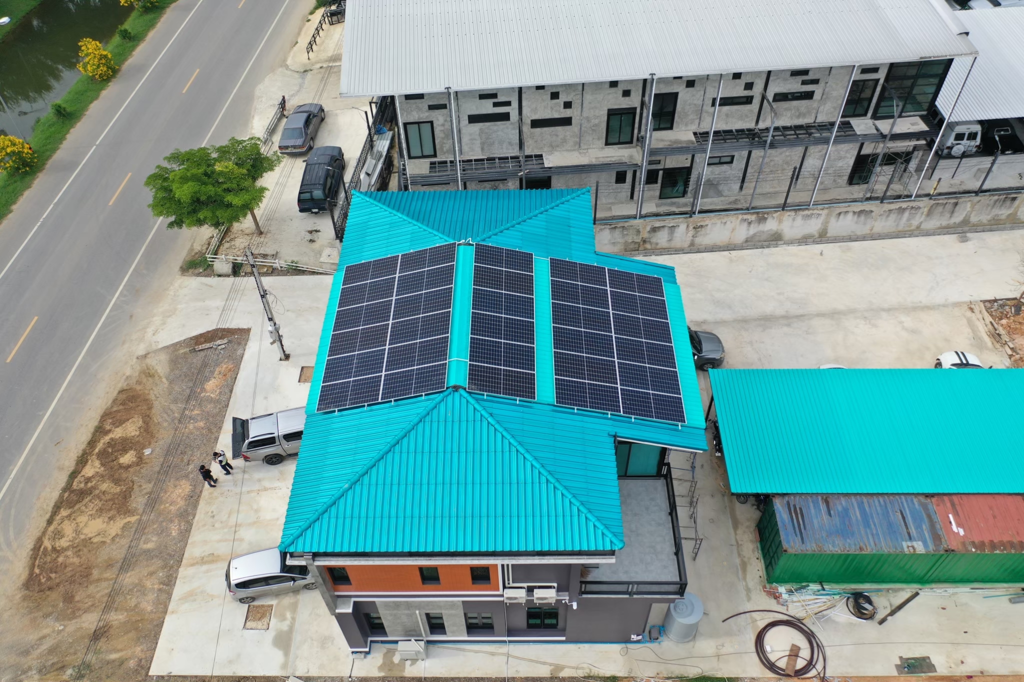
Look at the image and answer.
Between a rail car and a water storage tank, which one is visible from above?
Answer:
water storage tank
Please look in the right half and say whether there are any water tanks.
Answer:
Yes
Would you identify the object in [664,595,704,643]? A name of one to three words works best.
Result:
water tank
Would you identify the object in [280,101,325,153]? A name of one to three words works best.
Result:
car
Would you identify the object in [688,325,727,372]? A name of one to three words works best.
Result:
car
